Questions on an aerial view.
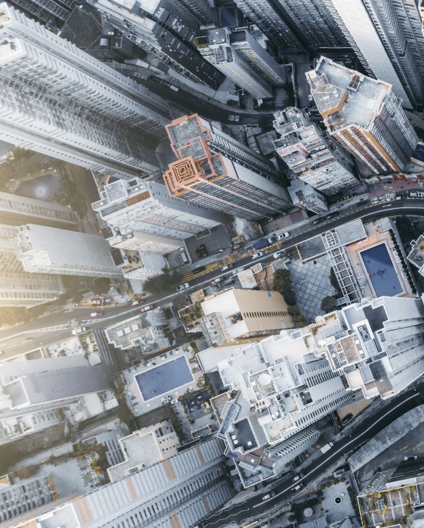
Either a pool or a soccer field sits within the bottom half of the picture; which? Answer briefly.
pool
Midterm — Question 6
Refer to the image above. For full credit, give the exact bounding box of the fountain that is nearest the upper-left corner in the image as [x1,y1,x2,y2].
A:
[29,180,51,199]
